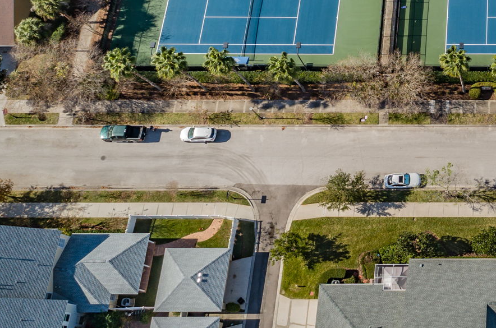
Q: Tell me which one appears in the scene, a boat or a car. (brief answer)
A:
car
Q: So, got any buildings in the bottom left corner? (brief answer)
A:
Yes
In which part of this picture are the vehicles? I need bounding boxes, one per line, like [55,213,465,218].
[384,172,423,190]
[98,125,147,143]
[180,126,217,144]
